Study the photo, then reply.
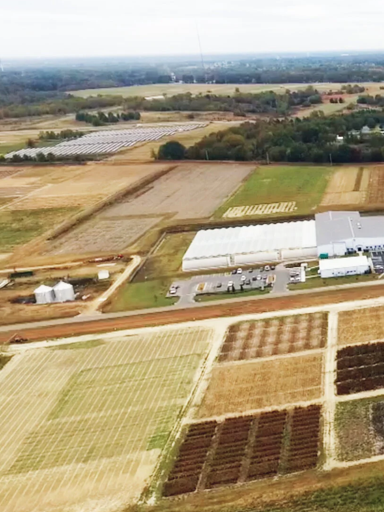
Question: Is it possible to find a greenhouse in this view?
Yes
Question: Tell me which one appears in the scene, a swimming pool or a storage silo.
storage silo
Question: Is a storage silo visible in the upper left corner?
No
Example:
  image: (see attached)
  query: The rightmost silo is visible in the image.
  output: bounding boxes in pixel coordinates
[54,278,82,302]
